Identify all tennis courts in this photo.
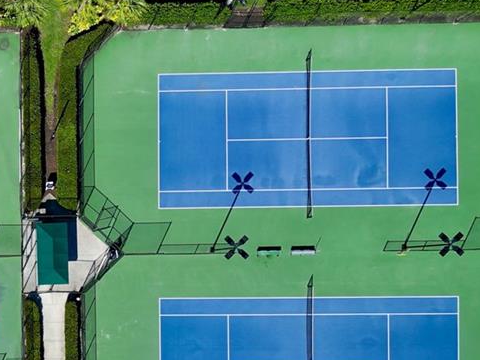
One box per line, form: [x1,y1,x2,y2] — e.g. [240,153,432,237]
[159,296,459,360]
[158,68,458,209]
